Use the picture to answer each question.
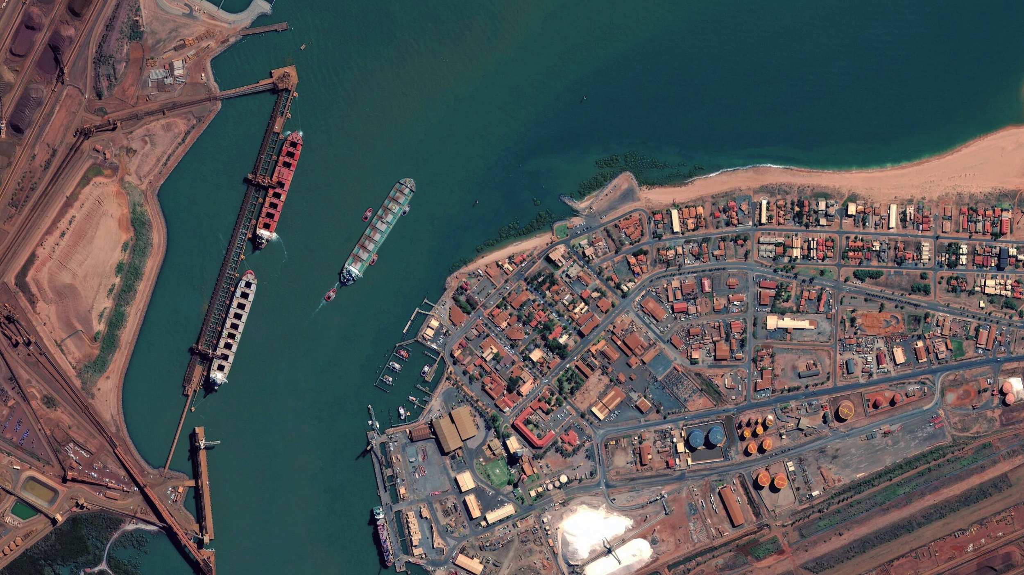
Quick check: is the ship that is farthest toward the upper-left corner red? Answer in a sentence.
Yes, the ship that is farthest toward the upper-left corner appears red.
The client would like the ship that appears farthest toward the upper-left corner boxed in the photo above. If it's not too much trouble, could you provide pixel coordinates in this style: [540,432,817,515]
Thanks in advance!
[252,130,303,252]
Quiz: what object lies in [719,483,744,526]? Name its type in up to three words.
building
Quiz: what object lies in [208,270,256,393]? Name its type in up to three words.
ship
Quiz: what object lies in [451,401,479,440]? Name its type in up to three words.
shed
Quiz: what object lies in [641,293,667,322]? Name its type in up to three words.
building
